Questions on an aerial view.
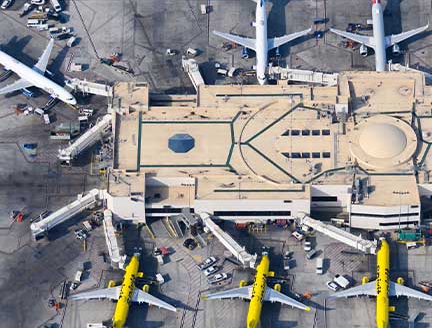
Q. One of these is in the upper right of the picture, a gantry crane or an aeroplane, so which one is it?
aeroplane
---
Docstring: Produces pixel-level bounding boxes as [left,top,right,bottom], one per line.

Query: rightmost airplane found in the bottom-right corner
[326,239,432,328]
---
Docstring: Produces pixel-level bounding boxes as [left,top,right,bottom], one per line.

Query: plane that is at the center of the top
[212,0,312,84]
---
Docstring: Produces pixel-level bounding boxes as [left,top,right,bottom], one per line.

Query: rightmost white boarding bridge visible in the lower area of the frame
[299,212,384,258]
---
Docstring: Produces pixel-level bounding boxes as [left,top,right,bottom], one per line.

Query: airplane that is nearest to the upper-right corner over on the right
[327,0,430,71]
